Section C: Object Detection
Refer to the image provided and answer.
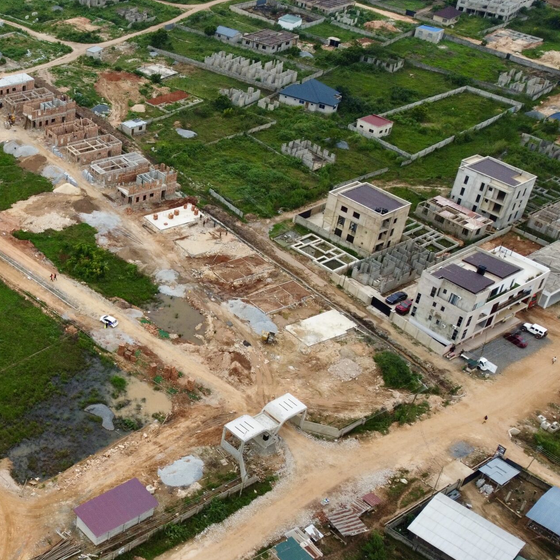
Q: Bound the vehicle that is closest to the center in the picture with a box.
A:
[256,327,284,349]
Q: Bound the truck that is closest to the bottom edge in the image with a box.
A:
[471,353,508,374]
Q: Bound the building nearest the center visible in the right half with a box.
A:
[320,182,411,260]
